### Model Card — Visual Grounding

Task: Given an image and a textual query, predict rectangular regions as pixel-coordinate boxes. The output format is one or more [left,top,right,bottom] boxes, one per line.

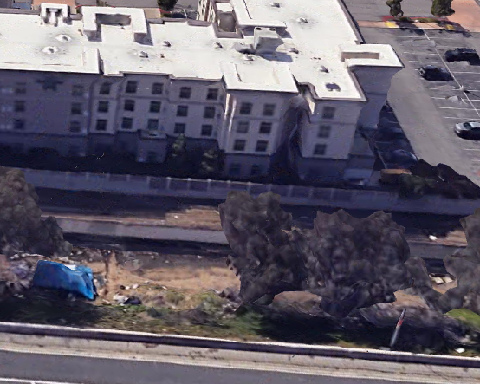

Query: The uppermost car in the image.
[446,47,479,62]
